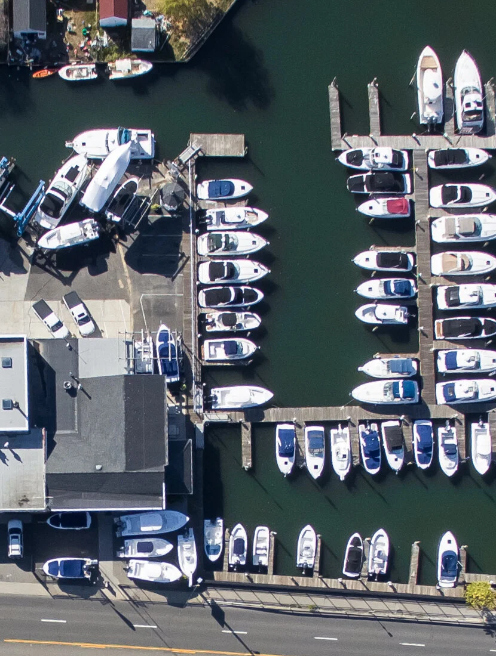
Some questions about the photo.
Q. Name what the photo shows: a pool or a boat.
boat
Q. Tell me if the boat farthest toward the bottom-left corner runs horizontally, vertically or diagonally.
horizontally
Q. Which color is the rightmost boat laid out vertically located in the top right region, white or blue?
white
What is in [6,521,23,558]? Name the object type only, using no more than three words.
car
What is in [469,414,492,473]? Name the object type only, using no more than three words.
boat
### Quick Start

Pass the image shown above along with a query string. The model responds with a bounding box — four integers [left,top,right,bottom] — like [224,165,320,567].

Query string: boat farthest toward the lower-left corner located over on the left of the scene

[43,559,104,579]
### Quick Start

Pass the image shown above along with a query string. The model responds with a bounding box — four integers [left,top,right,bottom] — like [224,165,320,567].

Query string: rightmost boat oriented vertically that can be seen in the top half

[451,46,484,135]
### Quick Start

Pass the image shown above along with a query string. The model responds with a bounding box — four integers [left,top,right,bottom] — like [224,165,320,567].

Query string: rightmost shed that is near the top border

[131,11,158,52]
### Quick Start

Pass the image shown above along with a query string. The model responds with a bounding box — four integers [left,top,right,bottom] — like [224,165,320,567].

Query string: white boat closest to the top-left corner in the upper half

[59,63,101,81]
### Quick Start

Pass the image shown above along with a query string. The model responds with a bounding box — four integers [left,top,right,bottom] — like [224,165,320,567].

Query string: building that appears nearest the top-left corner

[12,0,46,40]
